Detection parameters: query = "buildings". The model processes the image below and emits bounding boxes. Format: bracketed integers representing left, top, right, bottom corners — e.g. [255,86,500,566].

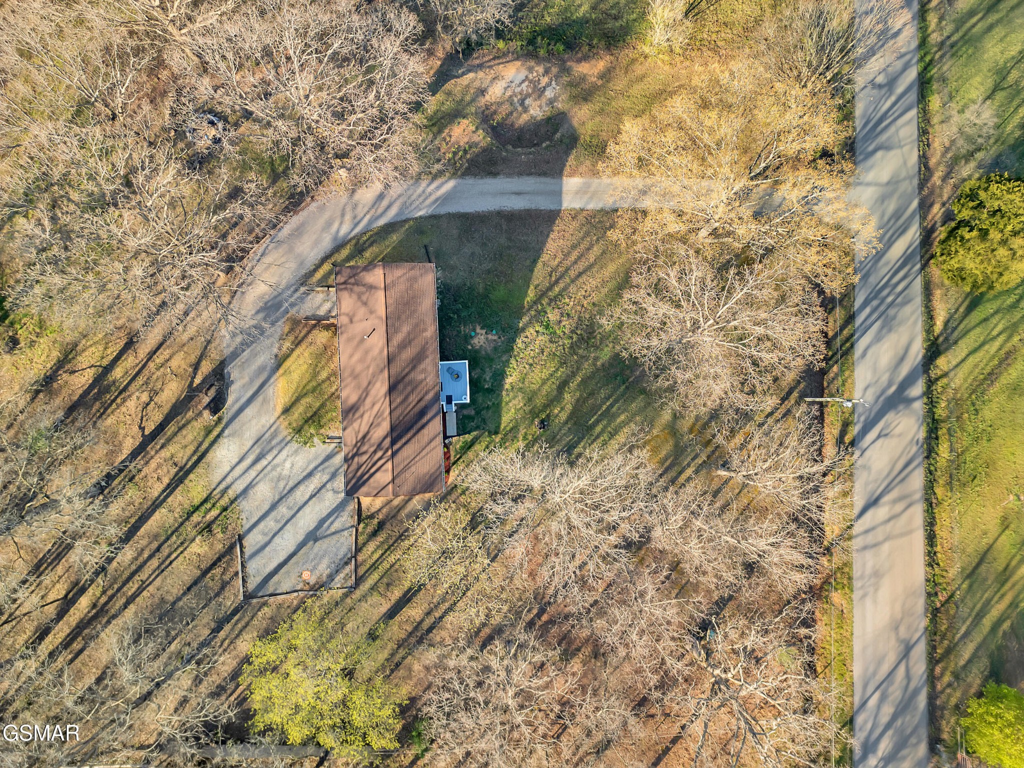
[333,262,446,497]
